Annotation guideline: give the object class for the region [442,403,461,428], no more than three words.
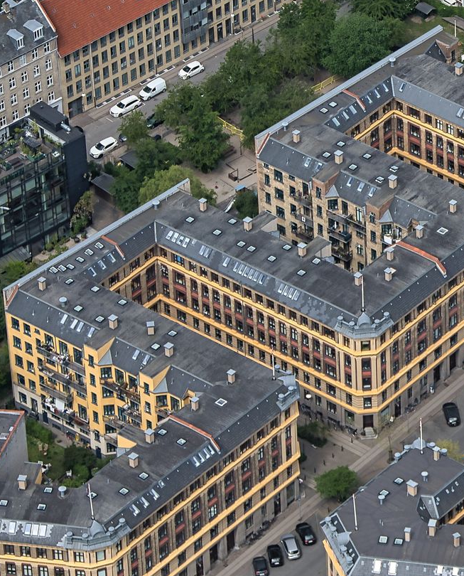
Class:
car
